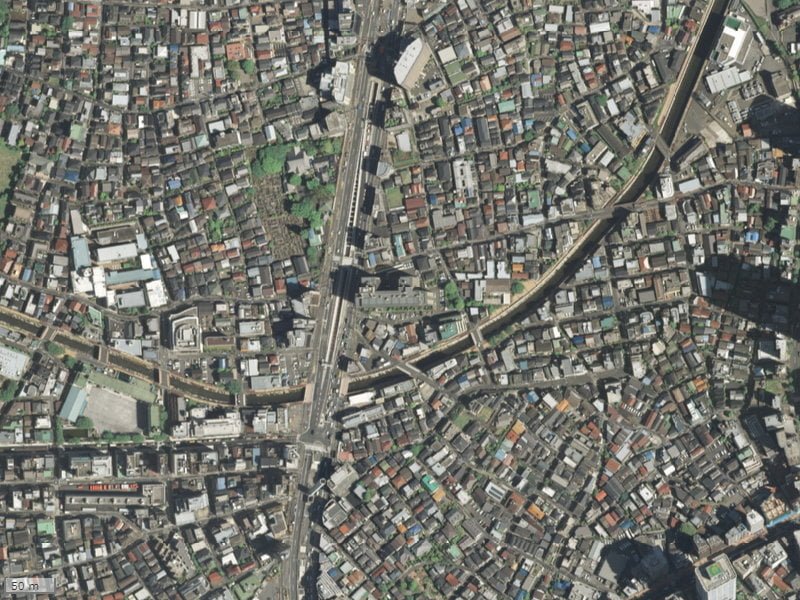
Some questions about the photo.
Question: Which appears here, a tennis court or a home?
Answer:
home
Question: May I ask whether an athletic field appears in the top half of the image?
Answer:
No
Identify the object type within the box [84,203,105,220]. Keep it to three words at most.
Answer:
house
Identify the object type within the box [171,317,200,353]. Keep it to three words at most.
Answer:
building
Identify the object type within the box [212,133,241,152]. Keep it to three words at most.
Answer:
house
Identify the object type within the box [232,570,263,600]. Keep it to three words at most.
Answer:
building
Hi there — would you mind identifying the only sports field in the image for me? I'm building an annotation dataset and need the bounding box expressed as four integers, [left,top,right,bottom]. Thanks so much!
[86,384,151,435]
